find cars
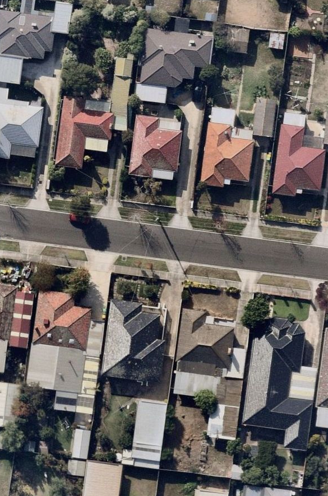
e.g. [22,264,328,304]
[192,80,204,105]
[69,213,90,224]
